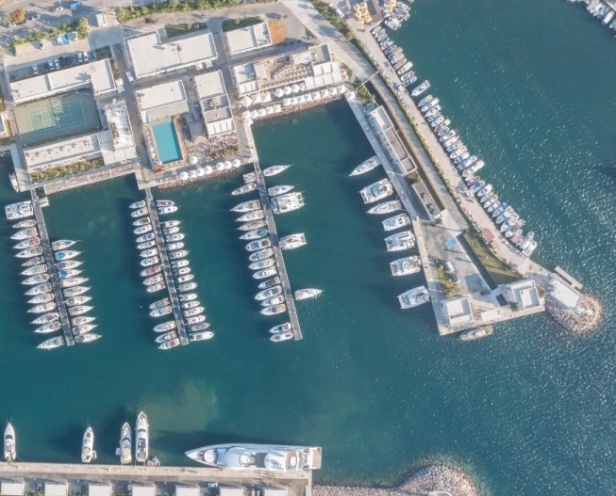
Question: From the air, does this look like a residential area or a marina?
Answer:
marina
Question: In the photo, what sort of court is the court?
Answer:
tennis court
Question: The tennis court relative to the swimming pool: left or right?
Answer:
left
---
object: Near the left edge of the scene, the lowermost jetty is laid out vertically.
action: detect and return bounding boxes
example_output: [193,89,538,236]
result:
[29,188,74,345]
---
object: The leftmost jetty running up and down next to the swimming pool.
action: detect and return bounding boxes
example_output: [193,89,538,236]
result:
[144,187,188,344]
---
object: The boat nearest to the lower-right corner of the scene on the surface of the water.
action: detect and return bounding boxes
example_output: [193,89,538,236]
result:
[459,322,495,340]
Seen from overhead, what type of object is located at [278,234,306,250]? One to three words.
boat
